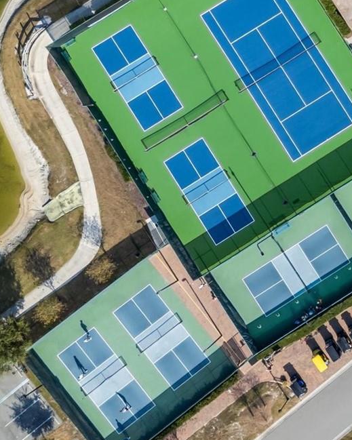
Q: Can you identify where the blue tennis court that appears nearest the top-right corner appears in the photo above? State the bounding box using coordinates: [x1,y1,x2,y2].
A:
[200,0,352,161]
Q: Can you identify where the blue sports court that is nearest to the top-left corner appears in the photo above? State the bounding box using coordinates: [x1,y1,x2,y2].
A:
[91,24,182,130]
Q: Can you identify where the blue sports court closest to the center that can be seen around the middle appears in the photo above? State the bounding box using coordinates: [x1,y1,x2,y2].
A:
[163,138,253,245]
